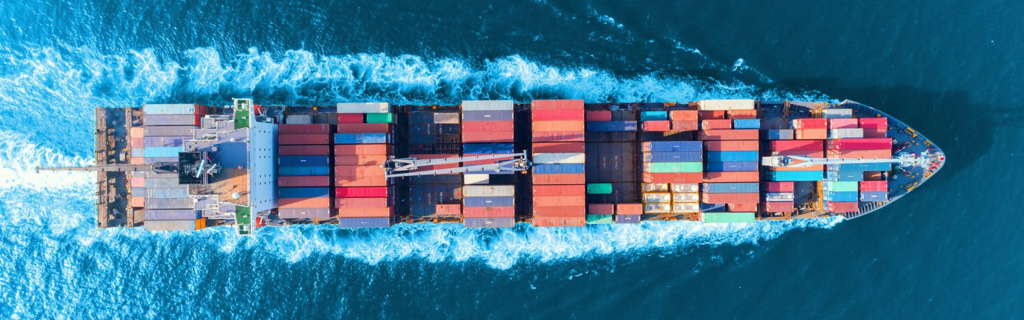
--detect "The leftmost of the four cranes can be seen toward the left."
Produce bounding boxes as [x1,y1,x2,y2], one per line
[35,162,178,176]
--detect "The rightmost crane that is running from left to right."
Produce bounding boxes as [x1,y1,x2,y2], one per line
[759,154,909,168]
